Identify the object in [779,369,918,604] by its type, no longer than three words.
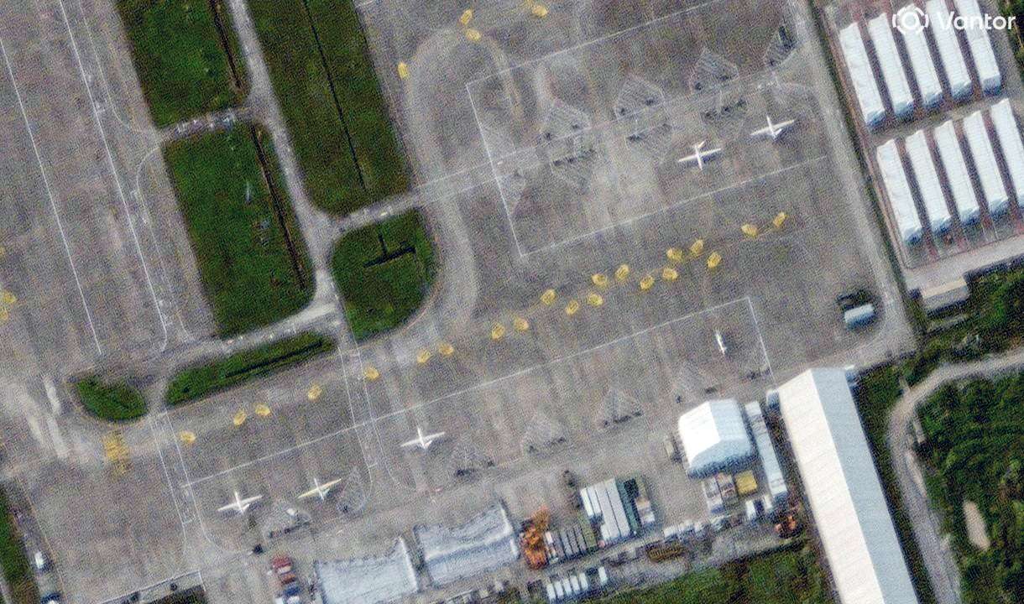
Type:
hangar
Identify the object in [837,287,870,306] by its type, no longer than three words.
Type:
vehicle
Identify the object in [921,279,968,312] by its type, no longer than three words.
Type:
building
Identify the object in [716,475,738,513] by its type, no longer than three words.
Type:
truck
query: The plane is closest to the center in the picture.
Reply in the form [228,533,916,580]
[399,426,445,450]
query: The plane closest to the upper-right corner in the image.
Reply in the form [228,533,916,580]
[748,116,794,140]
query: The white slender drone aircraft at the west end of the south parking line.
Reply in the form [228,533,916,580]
[217,491,262,516]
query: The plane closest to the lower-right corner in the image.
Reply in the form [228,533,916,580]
[715,329,730,355]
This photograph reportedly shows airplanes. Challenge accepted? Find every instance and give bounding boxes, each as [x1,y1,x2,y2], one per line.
[217,491,262,516]
[715,329,730,355]
[297,478,342,500]
[676,142,720,170]
[399,426,445,450]
[748,116,794,140]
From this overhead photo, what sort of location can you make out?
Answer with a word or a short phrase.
airport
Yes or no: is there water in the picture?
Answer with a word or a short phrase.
No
